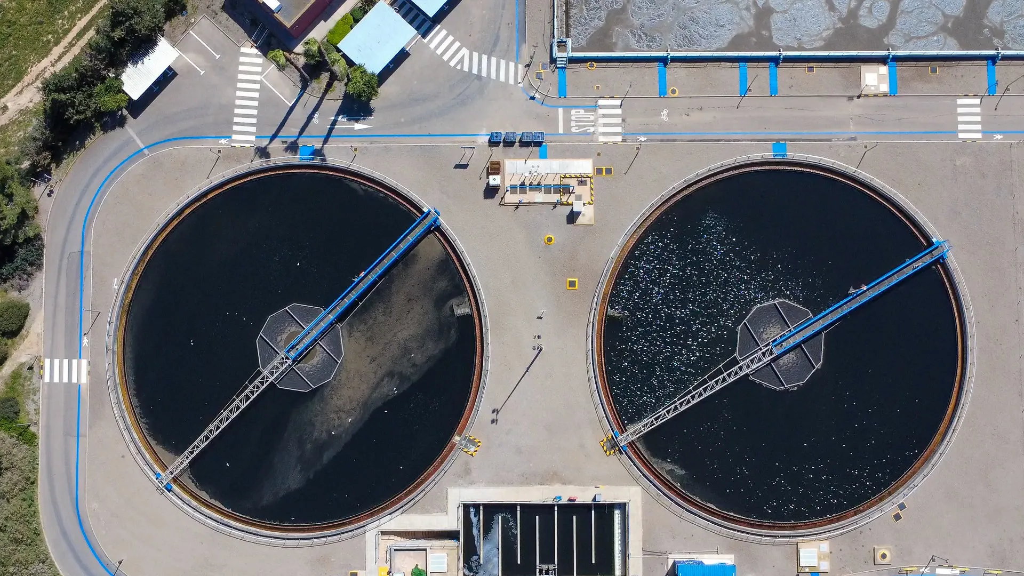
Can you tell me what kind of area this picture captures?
industrial area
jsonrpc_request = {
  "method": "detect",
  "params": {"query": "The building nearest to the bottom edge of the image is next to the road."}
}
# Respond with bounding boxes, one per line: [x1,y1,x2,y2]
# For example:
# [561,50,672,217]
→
[504,159,594,225]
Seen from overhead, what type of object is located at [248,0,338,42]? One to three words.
building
